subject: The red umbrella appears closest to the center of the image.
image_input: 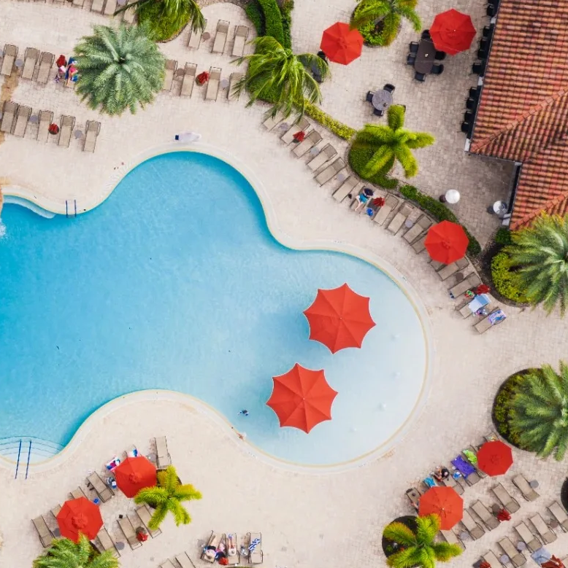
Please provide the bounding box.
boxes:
[302,281,376,356]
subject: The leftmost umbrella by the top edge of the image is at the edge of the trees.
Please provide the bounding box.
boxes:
[321,23,363,65]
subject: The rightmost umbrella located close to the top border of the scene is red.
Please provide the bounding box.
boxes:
[428,9,474,55]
